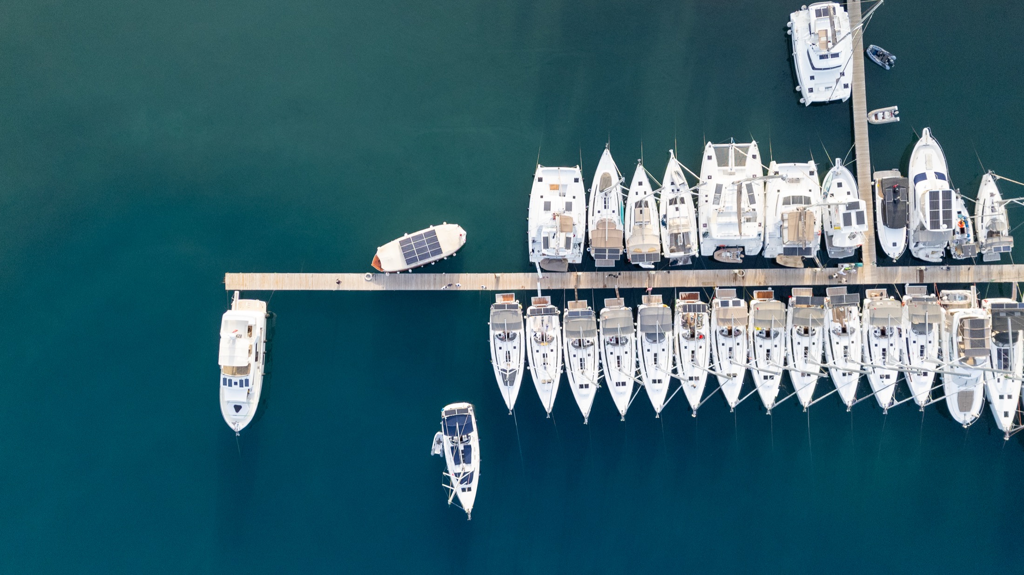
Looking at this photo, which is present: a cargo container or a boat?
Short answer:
boat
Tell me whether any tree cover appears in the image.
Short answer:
No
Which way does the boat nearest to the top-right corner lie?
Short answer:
diagonally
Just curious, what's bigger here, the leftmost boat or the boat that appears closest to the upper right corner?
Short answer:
the leftmost boat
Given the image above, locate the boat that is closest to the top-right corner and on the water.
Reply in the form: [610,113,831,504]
[868,44,898,69]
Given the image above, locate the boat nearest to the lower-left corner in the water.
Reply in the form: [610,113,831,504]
[218,300,267,437]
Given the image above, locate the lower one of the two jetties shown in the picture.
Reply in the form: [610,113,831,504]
[226,264,1024,291]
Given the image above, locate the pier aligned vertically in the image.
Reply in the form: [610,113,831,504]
[846,0,876,267]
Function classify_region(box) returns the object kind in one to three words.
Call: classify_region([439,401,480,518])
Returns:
boat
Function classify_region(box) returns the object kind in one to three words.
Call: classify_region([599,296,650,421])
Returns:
boat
